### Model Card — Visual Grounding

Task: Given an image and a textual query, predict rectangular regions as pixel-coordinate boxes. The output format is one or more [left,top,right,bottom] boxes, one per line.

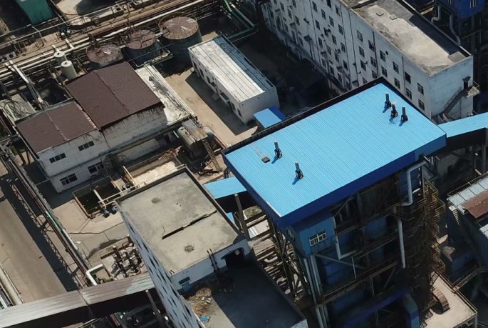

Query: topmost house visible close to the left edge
[11,59,175,187]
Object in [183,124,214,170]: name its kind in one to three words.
storage tank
